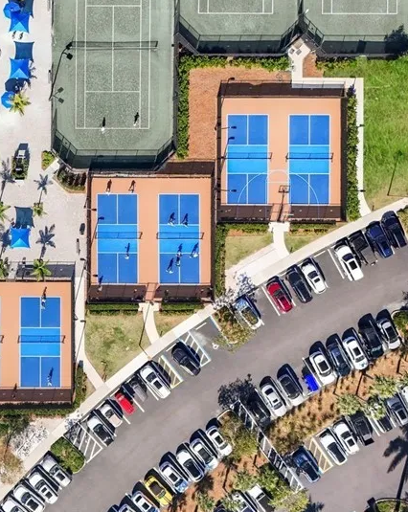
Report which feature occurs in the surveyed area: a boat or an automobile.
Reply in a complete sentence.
The image shows an automobile.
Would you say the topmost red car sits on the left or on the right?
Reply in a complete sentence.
The topmost red car appears in the right half of the scene.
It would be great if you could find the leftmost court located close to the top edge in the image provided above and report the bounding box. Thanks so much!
[53,0,176,169]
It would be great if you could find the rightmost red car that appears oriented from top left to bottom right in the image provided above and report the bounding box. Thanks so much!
[268,281,295,314]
